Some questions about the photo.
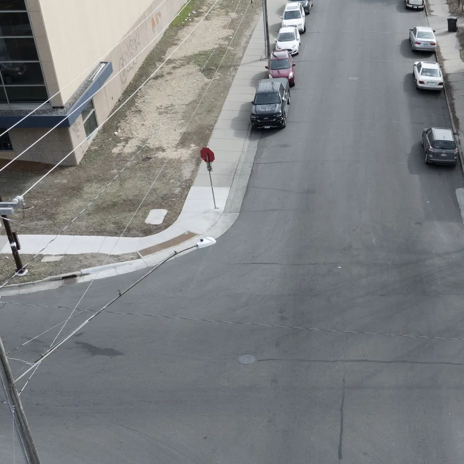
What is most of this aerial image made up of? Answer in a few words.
paved ground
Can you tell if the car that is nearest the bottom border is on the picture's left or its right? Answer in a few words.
right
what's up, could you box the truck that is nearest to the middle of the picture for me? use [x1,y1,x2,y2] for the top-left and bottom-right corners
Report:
[249,81,291,129]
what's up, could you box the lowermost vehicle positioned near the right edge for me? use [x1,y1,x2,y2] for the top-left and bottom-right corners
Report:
[419,123,460,165]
